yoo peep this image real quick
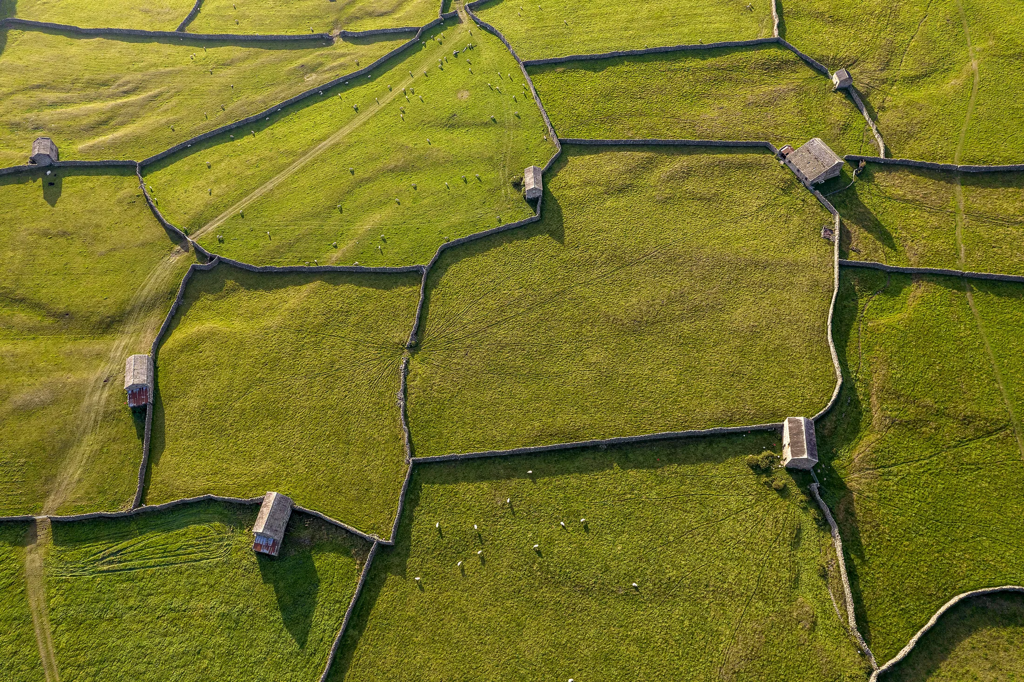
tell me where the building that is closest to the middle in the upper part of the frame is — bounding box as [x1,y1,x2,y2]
[524,165,543,198]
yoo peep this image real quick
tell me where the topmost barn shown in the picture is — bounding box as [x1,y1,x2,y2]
[833,68,853,89]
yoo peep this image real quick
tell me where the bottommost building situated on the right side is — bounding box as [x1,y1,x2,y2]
[782,415,819,470]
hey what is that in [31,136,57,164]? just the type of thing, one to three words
barn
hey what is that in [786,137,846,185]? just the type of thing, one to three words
barn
